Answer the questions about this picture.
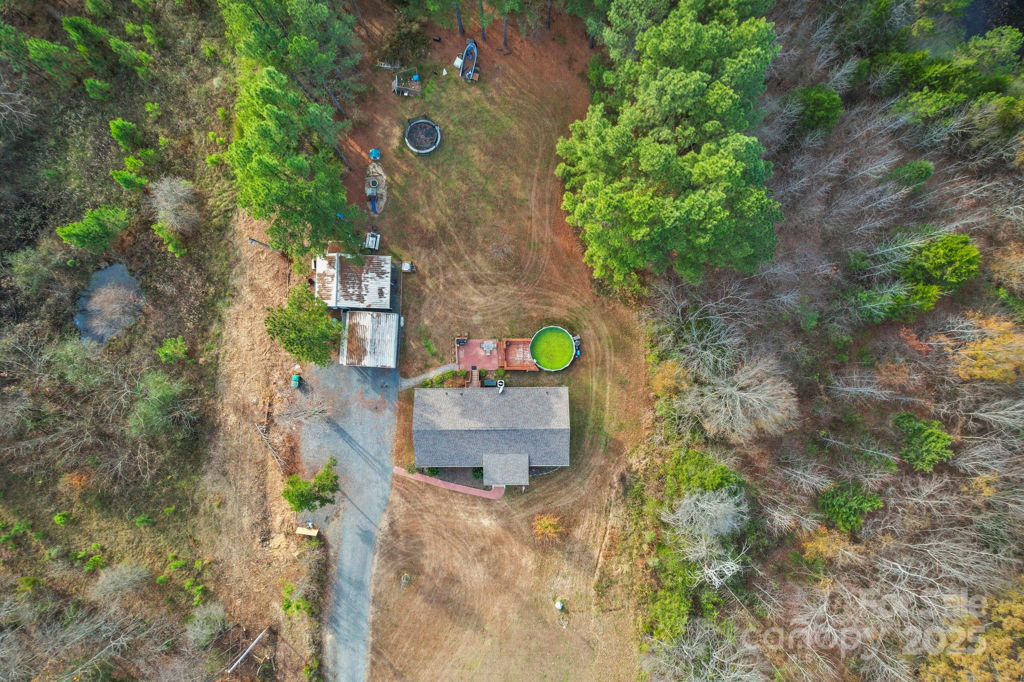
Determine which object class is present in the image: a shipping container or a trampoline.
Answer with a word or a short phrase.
trampoline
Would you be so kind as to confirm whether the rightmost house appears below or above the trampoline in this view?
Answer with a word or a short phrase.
below it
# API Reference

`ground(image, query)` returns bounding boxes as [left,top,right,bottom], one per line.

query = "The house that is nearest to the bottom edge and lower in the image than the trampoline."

[411,386,571,489]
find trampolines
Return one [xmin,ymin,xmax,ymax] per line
[402,110,442,153]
